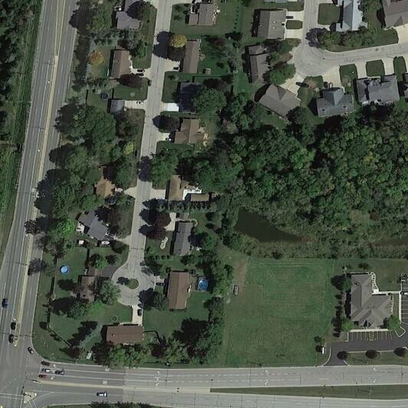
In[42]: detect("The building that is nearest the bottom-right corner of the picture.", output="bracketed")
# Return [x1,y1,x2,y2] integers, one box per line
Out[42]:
[350,273,393,328]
